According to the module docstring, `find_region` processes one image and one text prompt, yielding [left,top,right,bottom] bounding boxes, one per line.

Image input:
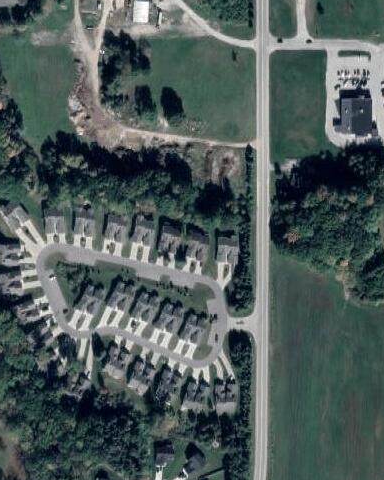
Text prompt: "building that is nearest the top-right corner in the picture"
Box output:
[335,96,377,138]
